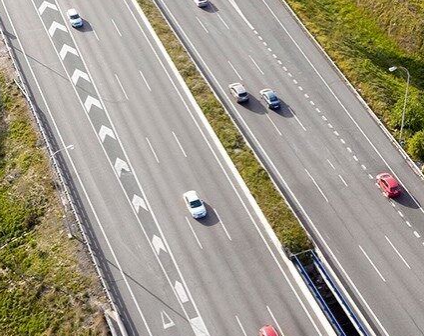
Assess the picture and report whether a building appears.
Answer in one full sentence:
No, the frame has no building in it.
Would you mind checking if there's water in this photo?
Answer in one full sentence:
No, there's no water in this view.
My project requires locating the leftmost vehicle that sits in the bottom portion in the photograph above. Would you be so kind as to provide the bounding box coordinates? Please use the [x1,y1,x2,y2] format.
[183,189,208,219]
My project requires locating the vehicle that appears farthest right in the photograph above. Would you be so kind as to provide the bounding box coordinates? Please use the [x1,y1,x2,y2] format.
[378,174,406,199]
